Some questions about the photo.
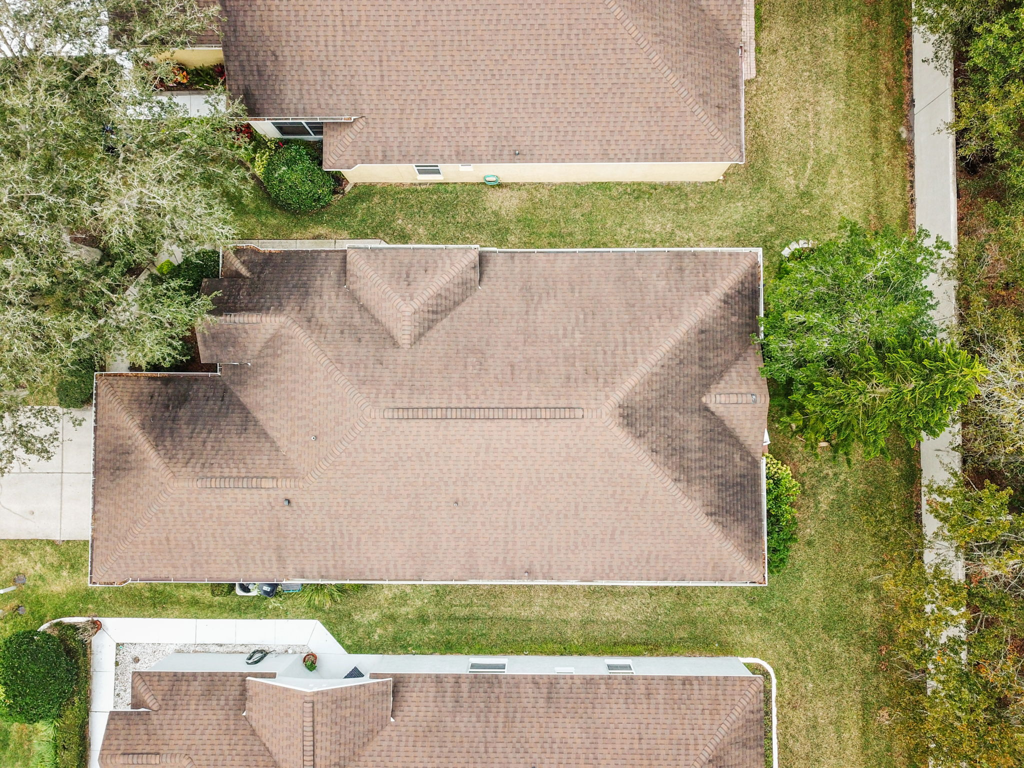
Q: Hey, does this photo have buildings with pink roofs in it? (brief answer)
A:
No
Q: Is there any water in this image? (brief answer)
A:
No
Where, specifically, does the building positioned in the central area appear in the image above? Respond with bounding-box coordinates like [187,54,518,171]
[85,243,773,591]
